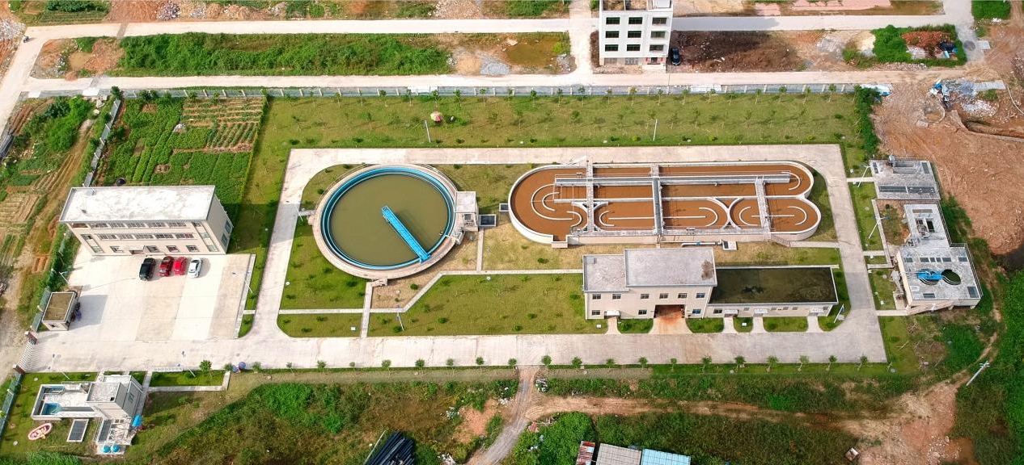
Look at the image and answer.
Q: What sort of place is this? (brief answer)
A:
industrial area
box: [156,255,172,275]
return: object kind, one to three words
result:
car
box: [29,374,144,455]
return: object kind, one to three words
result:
building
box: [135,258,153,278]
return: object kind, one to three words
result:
car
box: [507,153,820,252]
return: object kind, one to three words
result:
storage tank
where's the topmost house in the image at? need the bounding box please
[598,0,672,71]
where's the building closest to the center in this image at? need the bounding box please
[452,191,478,248]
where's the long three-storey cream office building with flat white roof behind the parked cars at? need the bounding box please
[58,186,234,261]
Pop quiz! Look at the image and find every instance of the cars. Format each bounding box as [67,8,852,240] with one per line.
[171,256,186,274]
[156,255,172,275]
[186,258,201,276]
[135,258,153,278]
[670,48,679,63]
